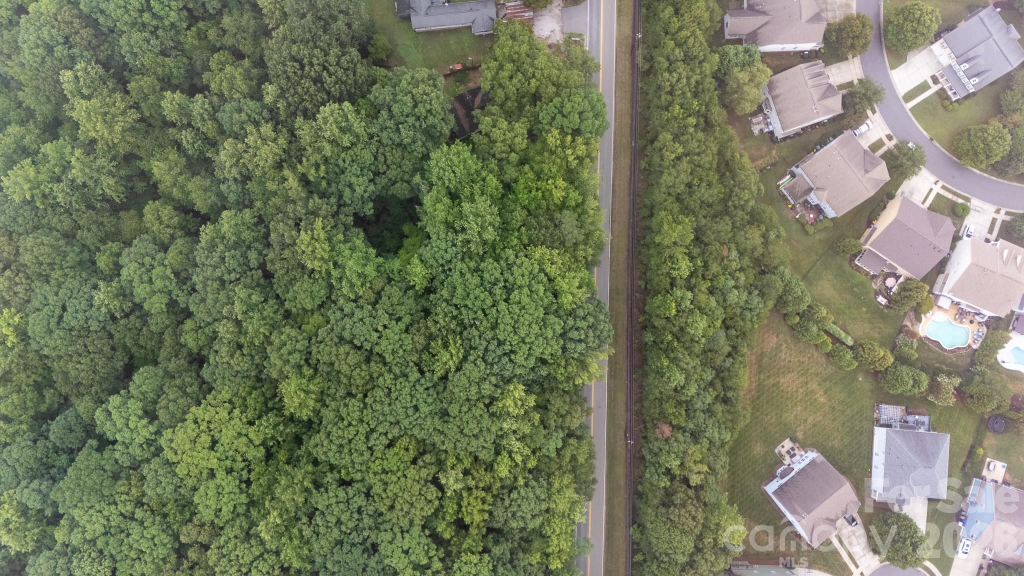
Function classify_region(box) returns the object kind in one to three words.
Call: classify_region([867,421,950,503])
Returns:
house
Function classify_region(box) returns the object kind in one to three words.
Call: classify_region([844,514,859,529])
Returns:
car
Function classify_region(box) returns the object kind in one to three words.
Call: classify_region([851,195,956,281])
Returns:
house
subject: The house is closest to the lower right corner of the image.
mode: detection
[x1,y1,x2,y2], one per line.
[960,476,1024,572]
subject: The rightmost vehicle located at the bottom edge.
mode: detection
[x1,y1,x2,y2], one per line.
[958,537,971,557]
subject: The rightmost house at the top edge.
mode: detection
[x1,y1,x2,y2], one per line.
[930,5,1024,100]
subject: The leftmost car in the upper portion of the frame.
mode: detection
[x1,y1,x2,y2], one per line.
[852,120,872,137]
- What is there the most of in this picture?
trees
